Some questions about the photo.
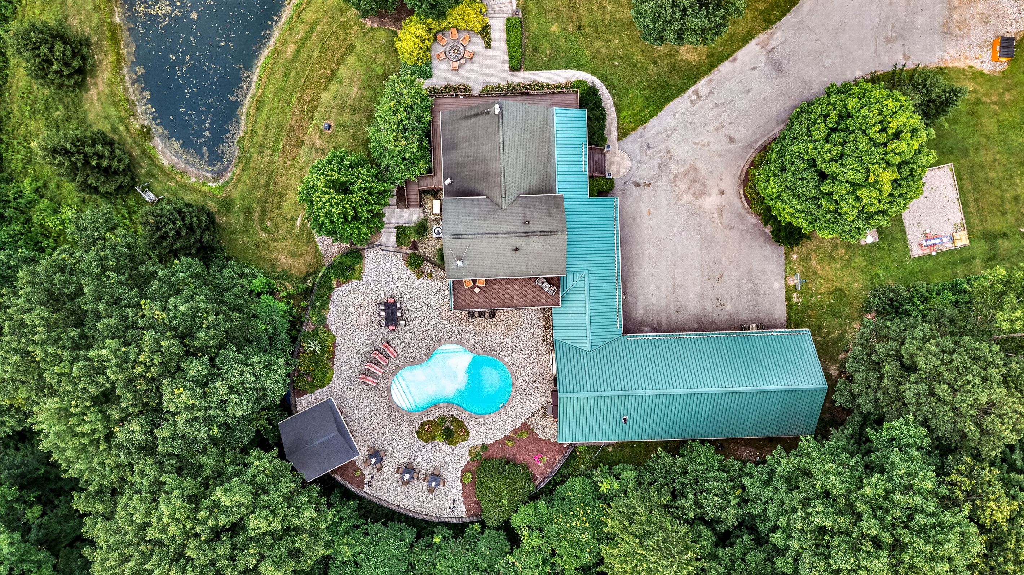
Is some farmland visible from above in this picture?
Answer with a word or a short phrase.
No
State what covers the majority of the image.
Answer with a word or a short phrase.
trees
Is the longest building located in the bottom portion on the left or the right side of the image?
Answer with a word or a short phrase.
right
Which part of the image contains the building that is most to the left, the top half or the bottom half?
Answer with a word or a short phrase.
bottom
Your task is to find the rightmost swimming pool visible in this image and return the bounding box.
[385,338,518,421]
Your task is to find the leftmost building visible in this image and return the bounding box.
[279,394,366,483]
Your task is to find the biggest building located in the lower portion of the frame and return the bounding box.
[554,328,829,444]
